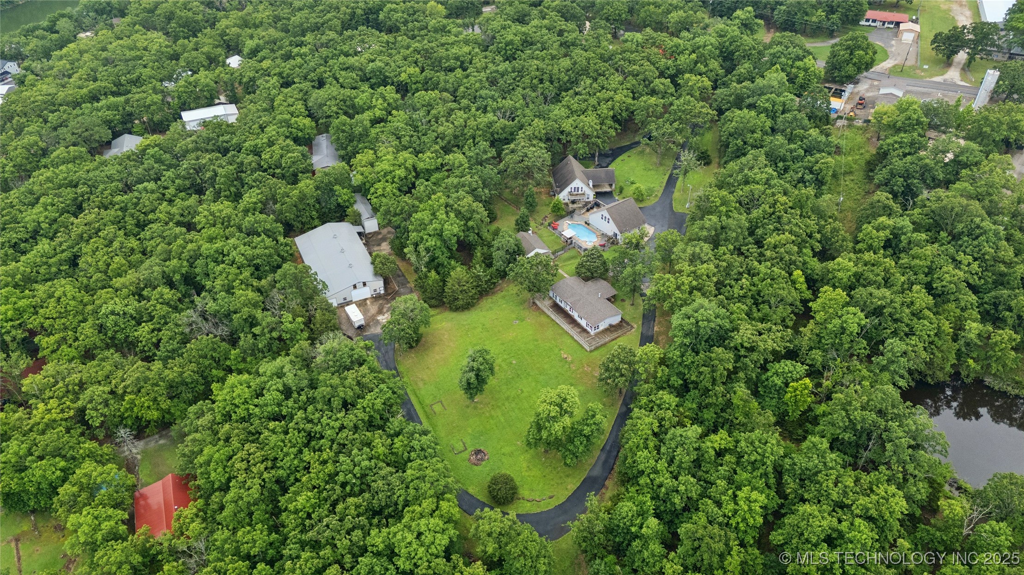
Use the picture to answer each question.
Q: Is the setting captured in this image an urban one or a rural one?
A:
rural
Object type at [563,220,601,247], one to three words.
swimming pool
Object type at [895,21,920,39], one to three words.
building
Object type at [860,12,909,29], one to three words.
house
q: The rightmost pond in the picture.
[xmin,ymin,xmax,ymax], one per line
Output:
[891,374,1024,491]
